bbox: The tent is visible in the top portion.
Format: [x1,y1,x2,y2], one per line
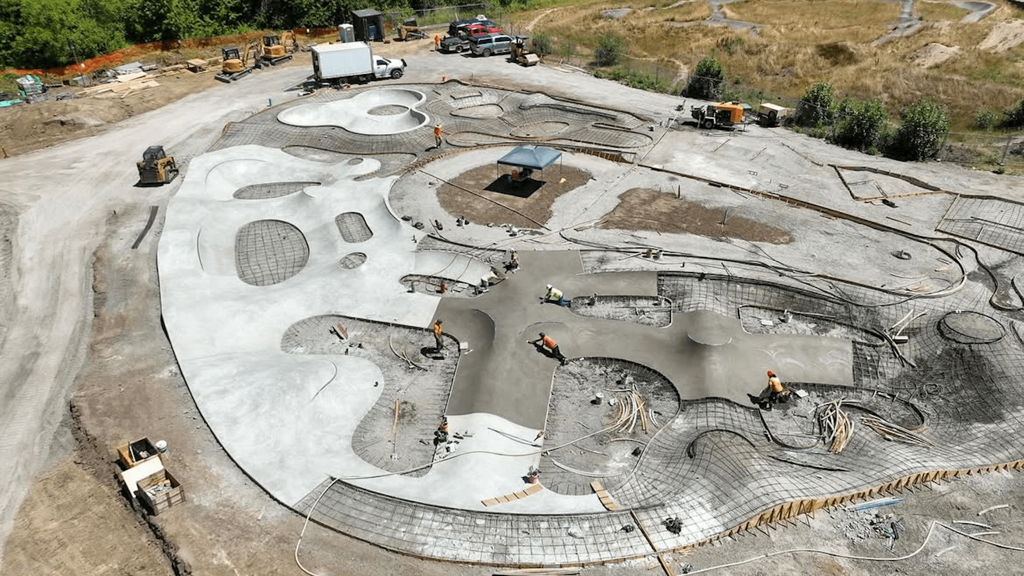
[502,136,566,183]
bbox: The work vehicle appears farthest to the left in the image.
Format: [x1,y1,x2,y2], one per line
[134,143,177,188]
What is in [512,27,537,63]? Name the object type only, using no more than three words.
work vehicle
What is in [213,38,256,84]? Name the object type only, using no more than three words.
work vehicle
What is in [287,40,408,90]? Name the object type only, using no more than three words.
truck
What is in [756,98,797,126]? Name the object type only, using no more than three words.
trailer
